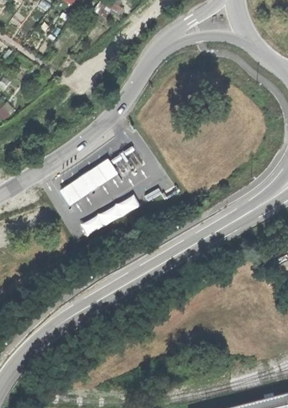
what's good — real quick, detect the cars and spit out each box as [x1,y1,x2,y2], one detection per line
[116,102,126,113]
[76,142,87,151]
